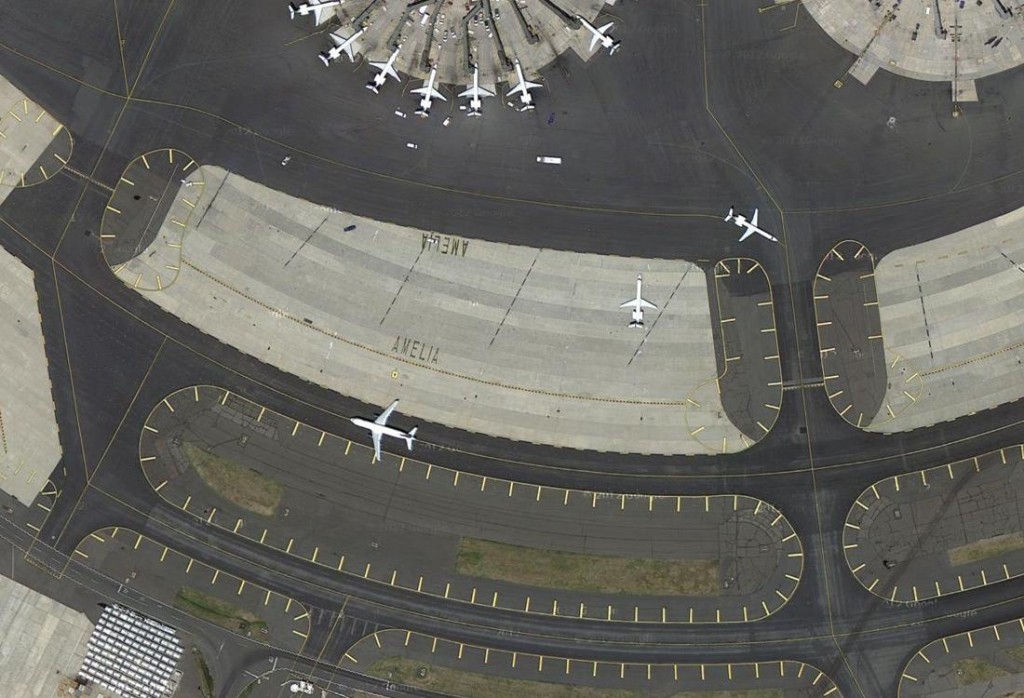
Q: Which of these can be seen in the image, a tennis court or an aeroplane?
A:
aeroplane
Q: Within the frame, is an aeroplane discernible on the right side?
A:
Yes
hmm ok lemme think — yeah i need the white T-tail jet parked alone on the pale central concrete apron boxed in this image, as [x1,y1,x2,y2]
[619,274,656,328]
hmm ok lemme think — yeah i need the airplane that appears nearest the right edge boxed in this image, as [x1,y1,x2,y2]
[727,209,777,243]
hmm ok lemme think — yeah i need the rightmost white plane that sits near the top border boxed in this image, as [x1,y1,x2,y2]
[577,16,622,56]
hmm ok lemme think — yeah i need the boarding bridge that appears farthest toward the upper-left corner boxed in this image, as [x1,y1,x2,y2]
[354,0,380,28]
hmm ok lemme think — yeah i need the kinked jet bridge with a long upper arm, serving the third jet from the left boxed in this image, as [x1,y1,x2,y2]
[388,0,438,50]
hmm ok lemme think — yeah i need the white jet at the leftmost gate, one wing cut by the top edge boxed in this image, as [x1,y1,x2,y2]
[290,0,344,27]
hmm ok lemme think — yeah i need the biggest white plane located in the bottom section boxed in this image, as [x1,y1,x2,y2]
[351,400,419,460]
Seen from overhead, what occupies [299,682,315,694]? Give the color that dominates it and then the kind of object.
white vehicle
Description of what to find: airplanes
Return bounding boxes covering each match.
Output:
[577,16,622,56]
[727,209,777,243]
[290,0,344,27]
[457,64,495,117]
[619,274,656,328]
[506,59,543,113]
[319,29,367,66]
[410,65,446,118]
[351,400,419,460]
[366,46,402,94]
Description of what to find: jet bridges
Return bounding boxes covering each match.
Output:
[993,0,1010,16]
[484,0,513,70]
[934,0,947,38]
[354,0,380,28]
[510,0,539,43]
[462,0,484,70]
[388,0,438,50]
[541,0,581,28]
[421,0,444,70]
